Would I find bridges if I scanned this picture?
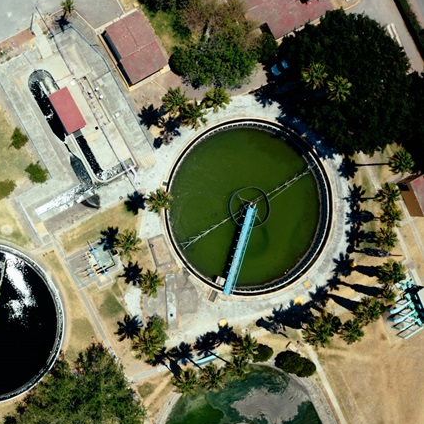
Yes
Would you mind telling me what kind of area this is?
industrial area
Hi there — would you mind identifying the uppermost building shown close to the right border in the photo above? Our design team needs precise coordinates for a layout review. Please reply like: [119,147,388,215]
[394,167,424,217]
